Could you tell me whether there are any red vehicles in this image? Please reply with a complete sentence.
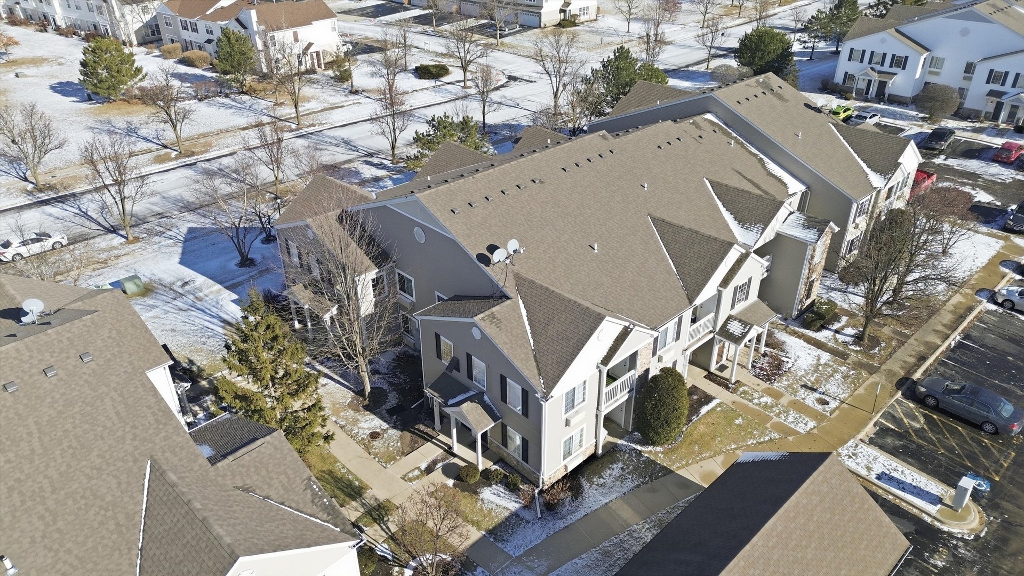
Yes, I can see a red vehicle in this picture.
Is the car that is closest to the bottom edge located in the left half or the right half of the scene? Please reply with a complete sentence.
It is on the right.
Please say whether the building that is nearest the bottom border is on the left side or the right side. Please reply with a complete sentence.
The building that is nearest the bottom border sits on the right side.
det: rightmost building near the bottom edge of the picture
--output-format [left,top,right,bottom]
[606,450,916,576]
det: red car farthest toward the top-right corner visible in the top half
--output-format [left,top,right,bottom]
[997,139,1024,162]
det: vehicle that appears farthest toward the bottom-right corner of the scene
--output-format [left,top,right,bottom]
[921,380,1024,438]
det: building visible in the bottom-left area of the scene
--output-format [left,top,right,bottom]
[0,268,373,576]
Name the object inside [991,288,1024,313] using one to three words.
car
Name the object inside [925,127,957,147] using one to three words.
car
